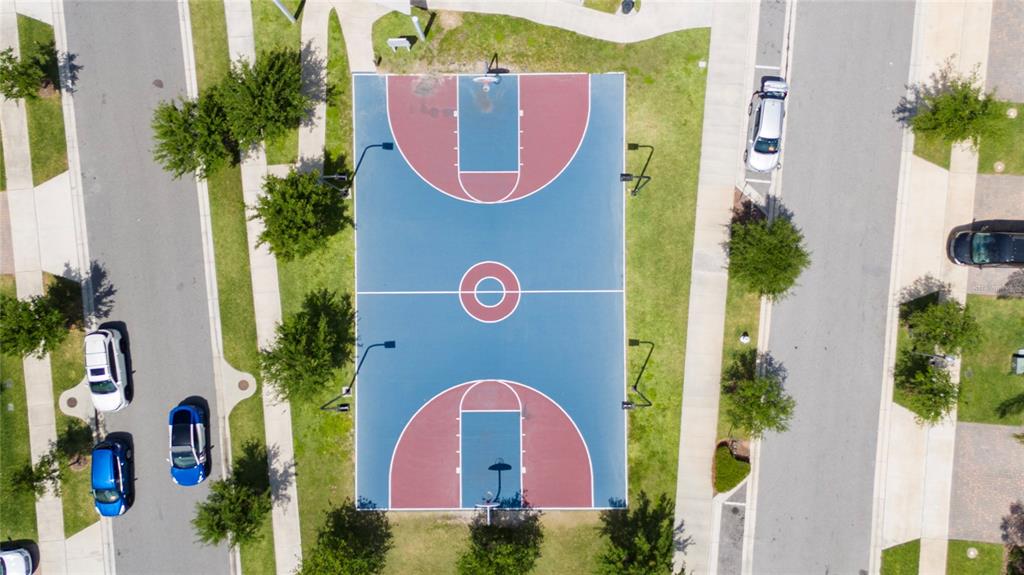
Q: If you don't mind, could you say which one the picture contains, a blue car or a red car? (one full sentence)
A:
It is a blue car that can be seen here.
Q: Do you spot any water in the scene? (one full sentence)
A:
No, the picture contains no water.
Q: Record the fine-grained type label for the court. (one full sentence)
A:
I'd identify the court as a basketball court.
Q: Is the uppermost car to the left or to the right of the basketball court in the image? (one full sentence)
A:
Relative to the basketball court, the uppermost car is on the right.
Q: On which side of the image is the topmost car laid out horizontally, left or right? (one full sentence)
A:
You can find the topmost car laid out horizontally on the right side of the picture.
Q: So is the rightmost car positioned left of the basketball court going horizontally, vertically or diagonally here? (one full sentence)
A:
In this picture, the rightmost car positioned left of the basketball court is oriented vertically.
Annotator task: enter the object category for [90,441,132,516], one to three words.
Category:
car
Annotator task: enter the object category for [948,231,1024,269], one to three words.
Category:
car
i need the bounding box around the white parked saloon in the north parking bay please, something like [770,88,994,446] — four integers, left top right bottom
[747,82,788,170]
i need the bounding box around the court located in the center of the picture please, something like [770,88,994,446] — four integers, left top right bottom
[353,72,628,512]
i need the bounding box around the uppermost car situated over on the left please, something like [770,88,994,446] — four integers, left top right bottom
[84,329,131,411]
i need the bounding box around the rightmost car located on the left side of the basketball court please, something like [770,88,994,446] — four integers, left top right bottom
[166,405,207,485]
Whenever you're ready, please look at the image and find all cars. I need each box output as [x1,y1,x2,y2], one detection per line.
[0,549,33,575]
[90,441,132,516]
[166,405,207,485]
[747,82,788,170]
[948,231,1024,269]
[84,329,131,411]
